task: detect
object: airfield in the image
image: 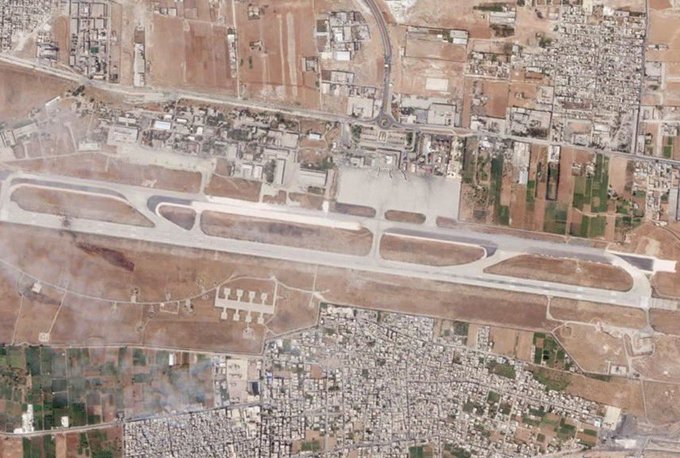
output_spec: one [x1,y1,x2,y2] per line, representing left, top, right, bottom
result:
[0,123,680,350]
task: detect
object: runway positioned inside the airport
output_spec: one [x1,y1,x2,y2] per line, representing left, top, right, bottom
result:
[0,210,649,307]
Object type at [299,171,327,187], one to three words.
hangar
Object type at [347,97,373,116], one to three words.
building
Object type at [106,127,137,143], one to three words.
hangar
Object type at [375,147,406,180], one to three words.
building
